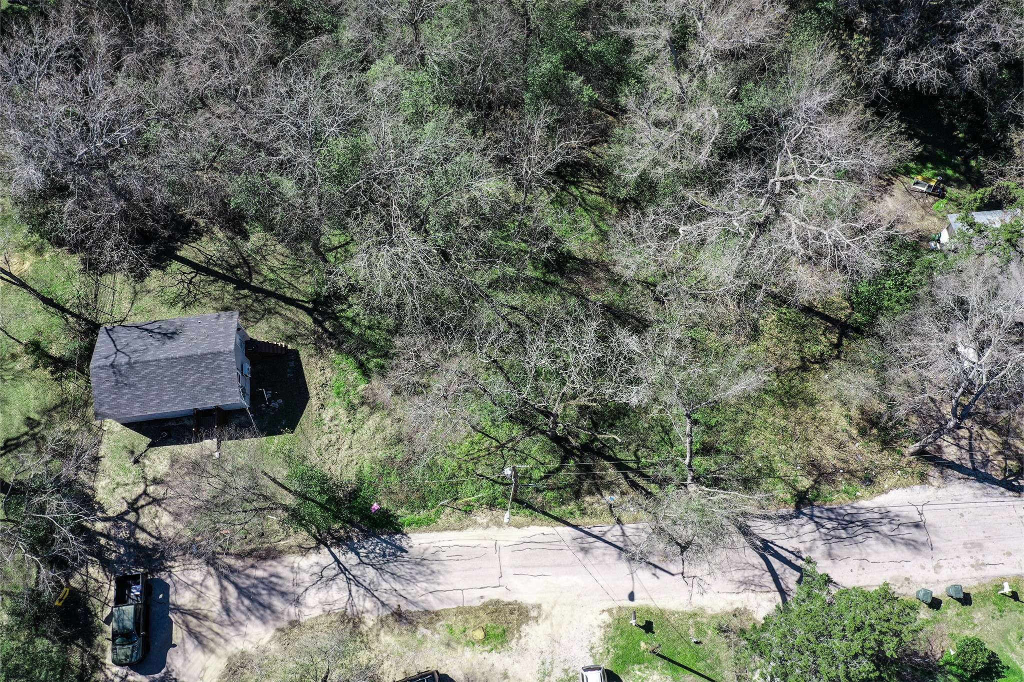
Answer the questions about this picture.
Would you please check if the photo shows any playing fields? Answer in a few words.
No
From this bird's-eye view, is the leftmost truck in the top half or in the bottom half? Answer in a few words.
bottom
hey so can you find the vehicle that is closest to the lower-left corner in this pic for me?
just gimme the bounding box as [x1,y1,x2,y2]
[104,567,153,670]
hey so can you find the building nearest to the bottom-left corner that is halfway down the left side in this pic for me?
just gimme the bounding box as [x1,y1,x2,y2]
[91,311,293,451]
